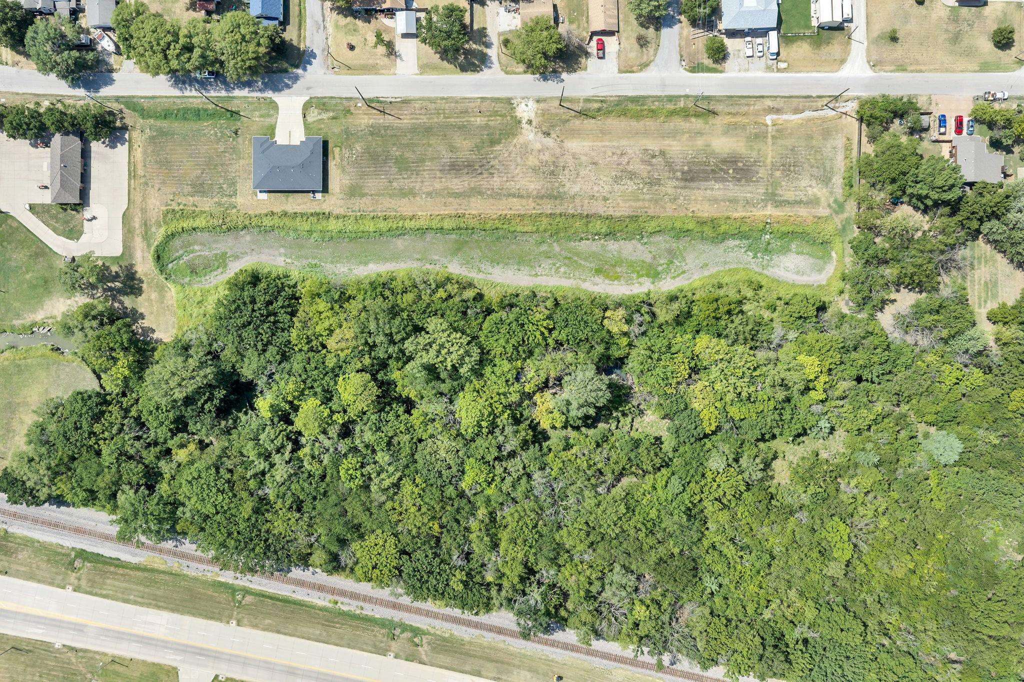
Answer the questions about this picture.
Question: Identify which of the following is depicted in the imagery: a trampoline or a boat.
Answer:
boat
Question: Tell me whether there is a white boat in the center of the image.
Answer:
No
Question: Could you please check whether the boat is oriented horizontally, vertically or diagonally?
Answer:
diagonally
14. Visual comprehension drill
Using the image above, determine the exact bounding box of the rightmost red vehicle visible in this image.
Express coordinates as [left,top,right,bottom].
[953,115,965,136]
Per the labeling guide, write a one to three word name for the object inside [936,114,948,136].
vehicle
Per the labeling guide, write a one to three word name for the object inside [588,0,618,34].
house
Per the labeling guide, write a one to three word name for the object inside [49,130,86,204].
building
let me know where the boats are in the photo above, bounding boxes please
[95,30,121,56]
